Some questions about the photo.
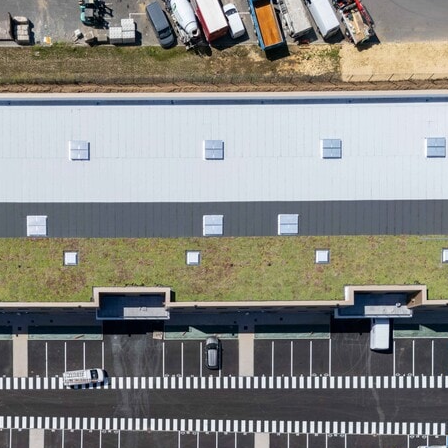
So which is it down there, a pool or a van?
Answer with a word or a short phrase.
van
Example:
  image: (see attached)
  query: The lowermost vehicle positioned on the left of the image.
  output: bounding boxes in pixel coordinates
[63,366,105,385]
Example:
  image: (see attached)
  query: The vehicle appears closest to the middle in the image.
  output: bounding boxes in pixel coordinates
[205,336,223,371]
